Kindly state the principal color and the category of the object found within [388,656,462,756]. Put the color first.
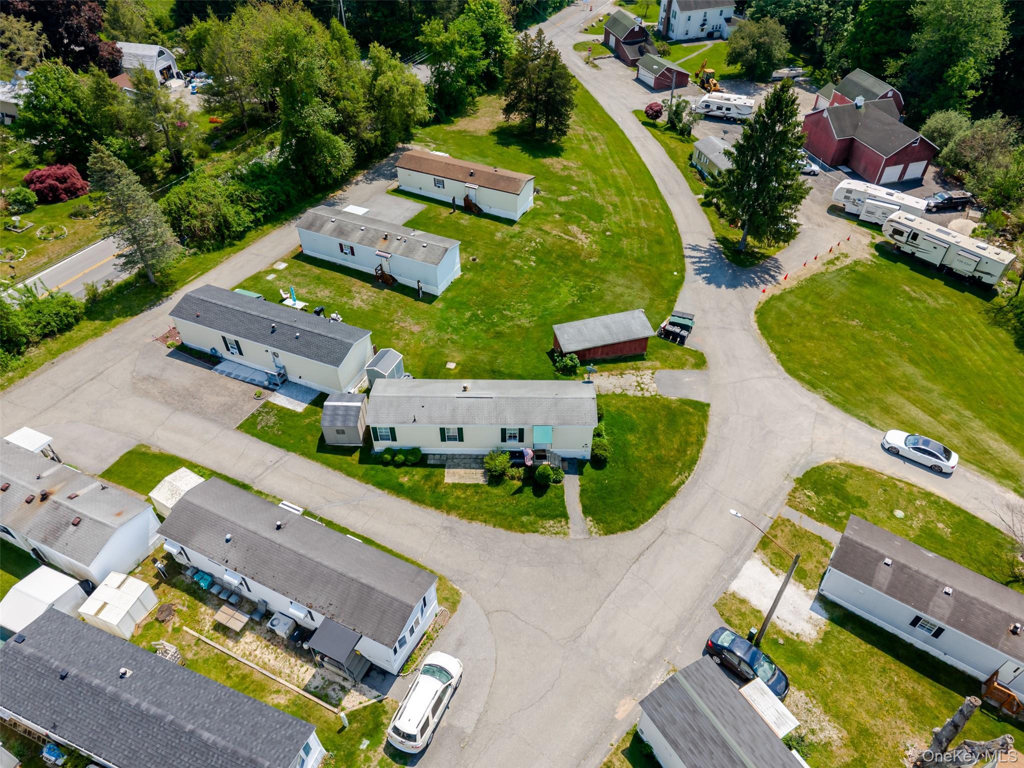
white car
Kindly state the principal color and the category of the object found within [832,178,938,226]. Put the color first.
white trailer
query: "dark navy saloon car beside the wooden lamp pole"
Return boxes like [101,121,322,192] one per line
[709,630,796,708]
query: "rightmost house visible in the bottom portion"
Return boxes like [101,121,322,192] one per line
[813,514,1024,698]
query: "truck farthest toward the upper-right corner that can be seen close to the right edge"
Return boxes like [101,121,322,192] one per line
[931,190,975,214]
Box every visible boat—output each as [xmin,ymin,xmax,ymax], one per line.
[771,60,812,80]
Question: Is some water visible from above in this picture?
No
